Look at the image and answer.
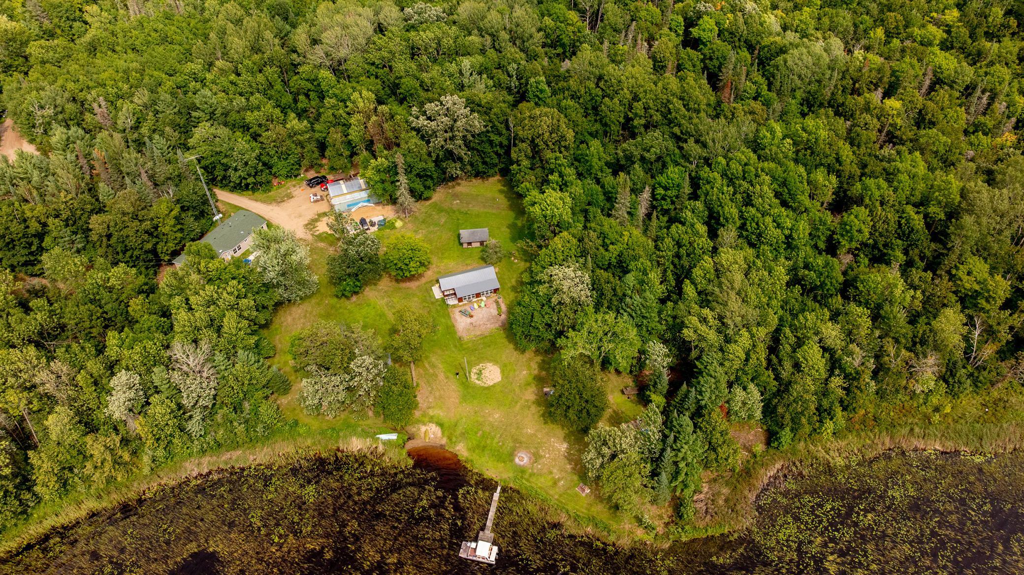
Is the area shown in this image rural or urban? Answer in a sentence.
The area shown here is rural.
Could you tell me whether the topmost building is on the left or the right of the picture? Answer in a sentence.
The topmost building sits on the left side.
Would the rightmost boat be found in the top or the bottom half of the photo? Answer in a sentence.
The rightmost boat is in the bottom half of the image.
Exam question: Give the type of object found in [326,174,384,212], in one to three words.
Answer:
building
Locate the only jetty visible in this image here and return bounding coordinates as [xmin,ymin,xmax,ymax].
[478,484,501,547]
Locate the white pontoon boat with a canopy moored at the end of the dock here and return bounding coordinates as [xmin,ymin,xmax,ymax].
[460,542,500,565]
